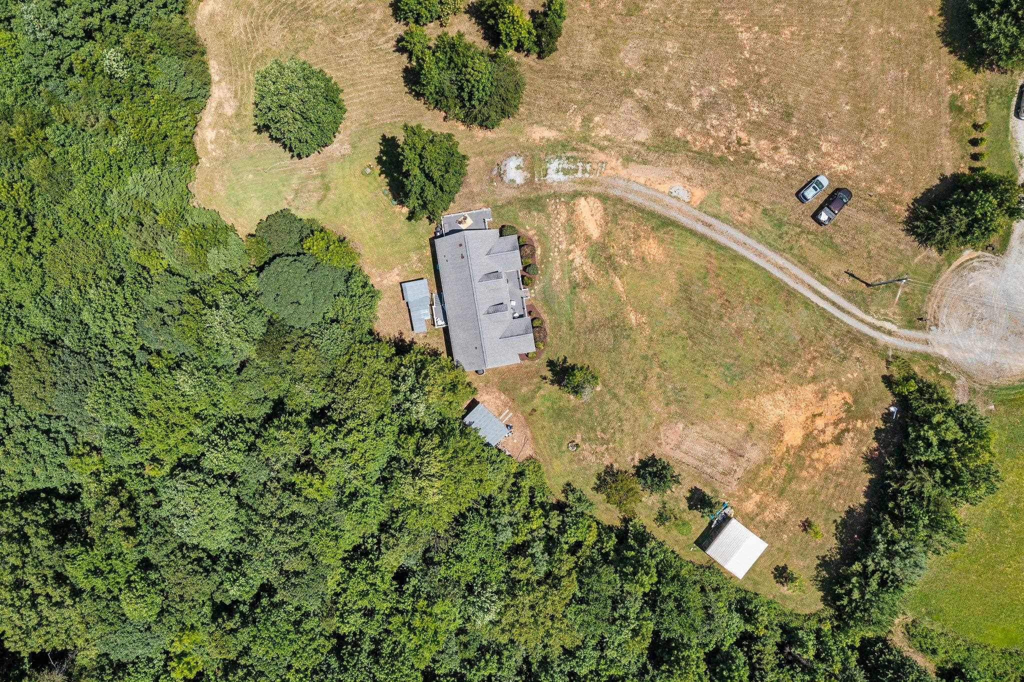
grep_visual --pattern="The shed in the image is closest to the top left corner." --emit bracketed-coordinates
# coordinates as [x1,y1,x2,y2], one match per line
[401,279,430,332]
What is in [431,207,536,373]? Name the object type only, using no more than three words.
house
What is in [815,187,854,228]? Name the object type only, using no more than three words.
truck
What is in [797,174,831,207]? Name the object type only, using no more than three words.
car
